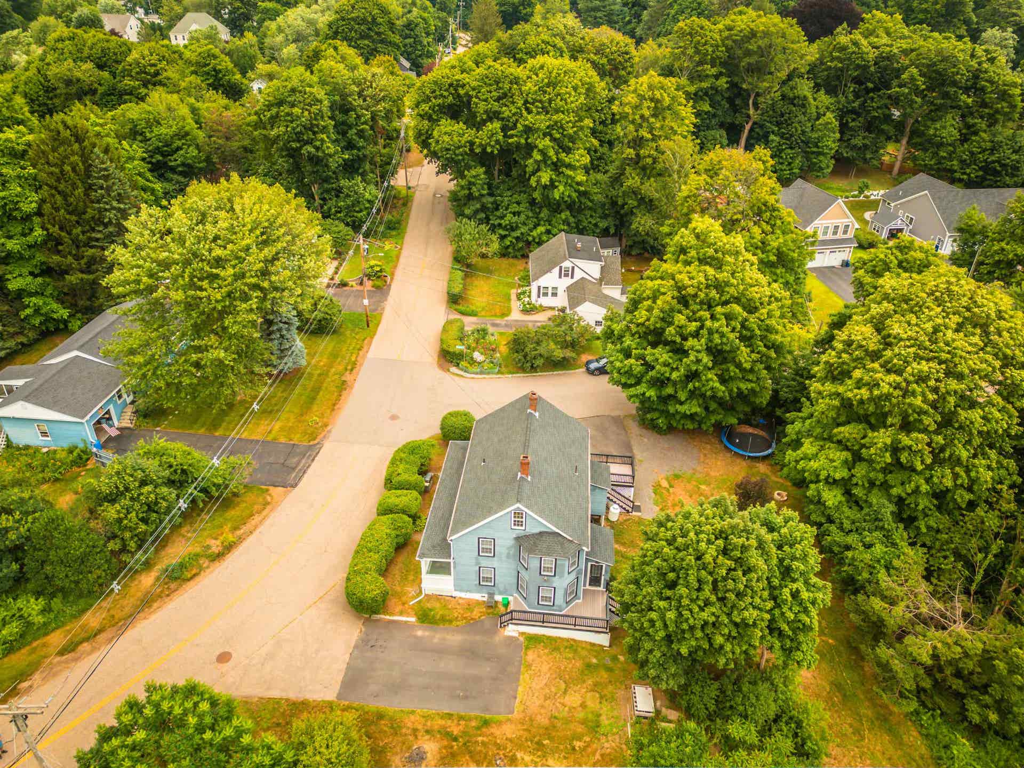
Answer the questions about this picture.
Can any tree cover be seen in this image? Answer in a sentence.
Yes, tree cover can be seen from above here.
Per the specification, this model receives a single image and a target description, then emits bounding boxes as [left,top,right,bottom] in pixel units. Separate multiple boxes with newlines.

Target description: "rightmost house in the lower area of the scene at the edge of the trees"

[408,389,645,643]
